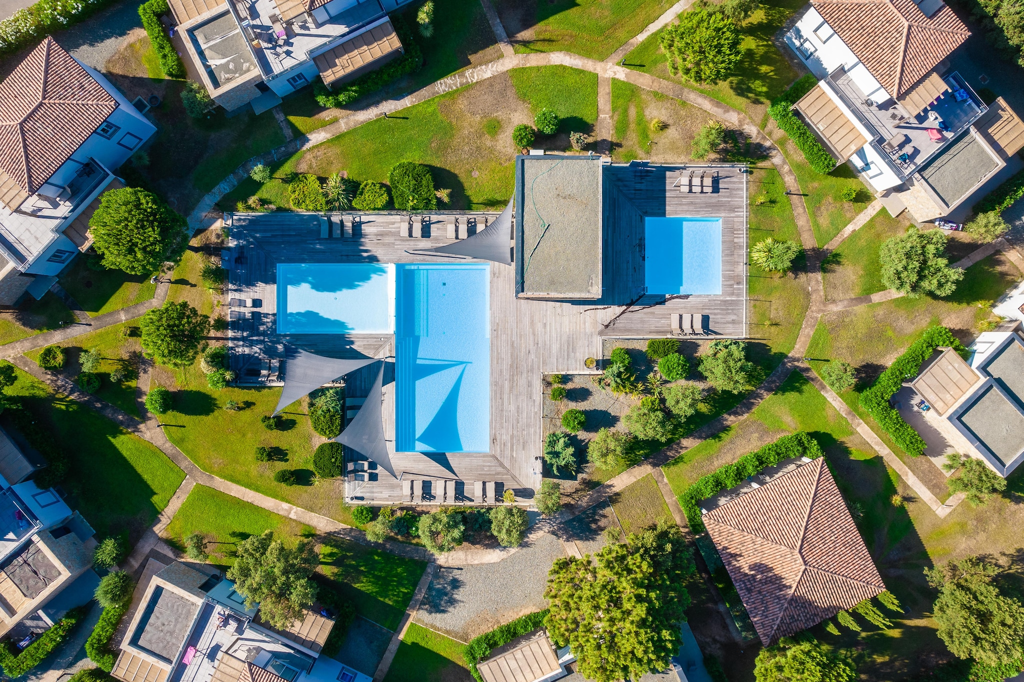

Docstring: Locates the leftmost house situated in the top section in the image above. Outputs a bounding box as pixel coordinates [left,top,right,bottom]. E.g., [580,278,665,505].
[0,35,154,302]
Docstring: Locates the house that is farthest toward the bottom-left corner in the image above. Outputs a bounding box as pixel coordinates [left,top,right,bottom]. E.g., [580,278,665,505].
[0,475,98,640]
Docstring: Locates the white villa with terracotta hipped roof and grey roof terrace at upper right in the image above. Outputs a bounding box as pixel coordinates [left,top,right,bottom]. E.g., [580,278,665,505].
[783,0,1001,218]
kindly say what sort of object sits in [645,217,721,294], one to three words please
swimming pool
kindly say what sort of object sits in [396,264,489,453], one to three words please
swimming pool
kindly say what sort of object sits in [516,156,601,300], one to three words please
building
